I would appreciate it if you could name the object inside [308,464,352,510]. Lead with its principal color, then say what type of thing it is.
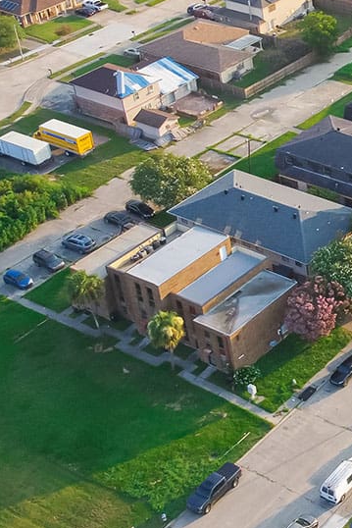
white van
